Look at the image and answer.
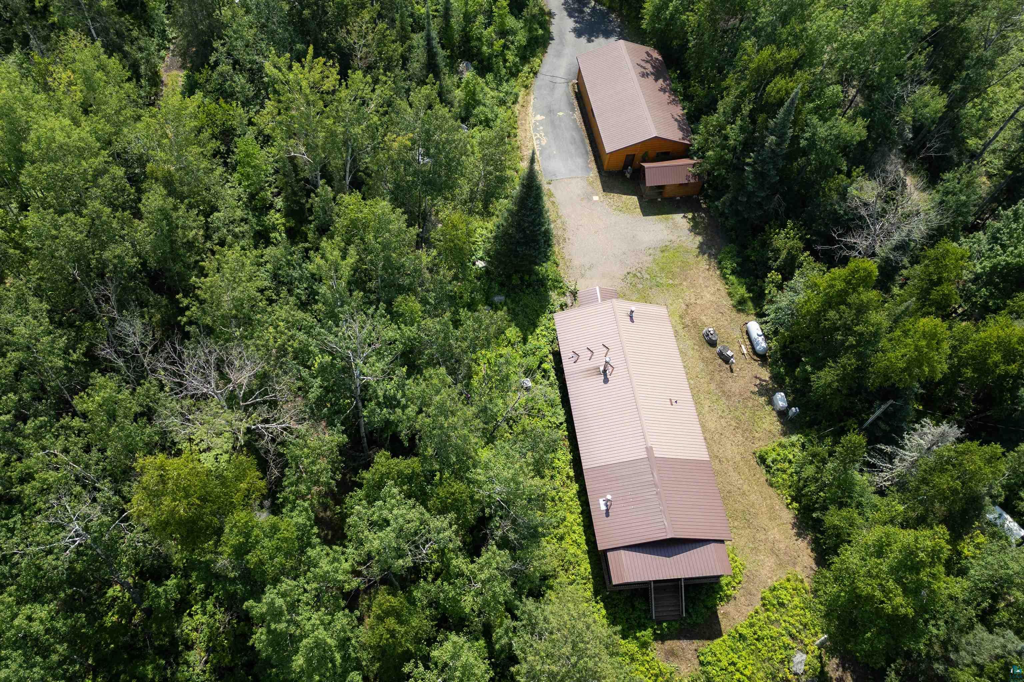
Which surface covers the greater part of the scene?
trees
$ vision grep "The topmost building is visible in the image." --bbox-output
[579,40,693,171]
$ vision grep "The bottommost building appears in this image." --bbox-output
[555,285,732,628]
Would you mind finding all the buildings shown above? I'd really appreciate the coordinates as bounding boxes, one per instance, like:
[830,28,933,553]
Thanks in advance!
[555,285,732,628]
[579,40,693,171]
